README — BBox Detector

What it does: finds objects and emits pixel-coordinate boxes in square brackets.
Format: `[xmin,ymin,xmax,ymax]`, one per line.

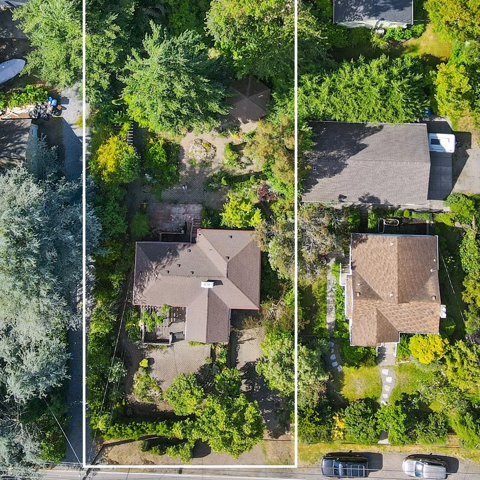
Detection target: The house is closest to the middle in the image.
[132,228,262,344]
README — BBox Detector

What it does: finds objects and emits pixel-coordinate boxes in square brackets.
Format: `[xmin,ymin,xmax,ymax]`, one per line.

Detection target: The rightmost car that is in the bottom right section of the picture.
[401,455,448,480]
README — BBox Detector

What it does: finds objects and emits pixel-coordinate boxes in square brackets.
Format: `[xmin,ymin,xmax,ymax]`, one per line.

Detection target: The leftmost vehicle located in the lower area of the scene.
[320,454,369,480]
